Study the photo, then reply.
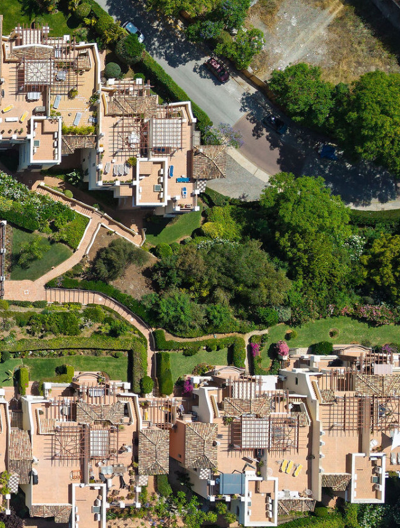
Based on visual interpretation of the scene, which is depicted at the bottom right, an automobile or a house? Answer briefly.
house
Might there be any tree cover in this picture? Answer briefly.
Yes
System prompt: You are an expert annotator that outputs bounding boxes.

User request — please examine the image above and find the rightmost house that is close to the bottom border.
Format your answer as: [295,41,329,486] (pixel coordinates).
[266,344,400,503]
